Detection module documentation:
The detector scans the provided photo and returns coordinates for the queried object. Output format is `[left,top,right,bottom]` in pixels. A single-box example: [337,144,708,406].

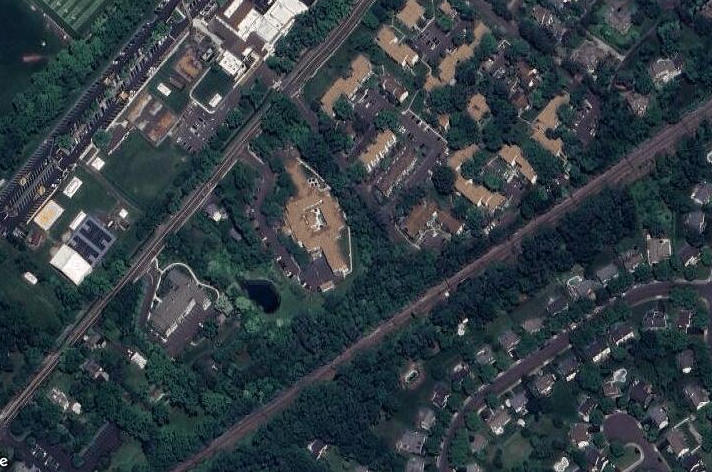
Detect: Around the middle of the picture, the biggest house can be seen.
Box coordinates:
[286,158,350,292]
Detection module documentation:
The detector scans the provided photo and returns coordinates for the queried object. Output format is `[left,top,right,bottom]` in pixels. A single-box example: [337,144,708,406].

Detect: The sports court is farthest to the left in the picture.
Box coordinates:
[34,199,64,230]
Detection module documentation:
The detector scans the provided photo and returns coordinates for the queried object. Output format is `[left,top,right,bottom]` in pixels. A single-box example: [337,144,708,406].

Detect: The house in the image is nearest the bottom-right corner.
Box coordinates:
[680,454,705,472]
